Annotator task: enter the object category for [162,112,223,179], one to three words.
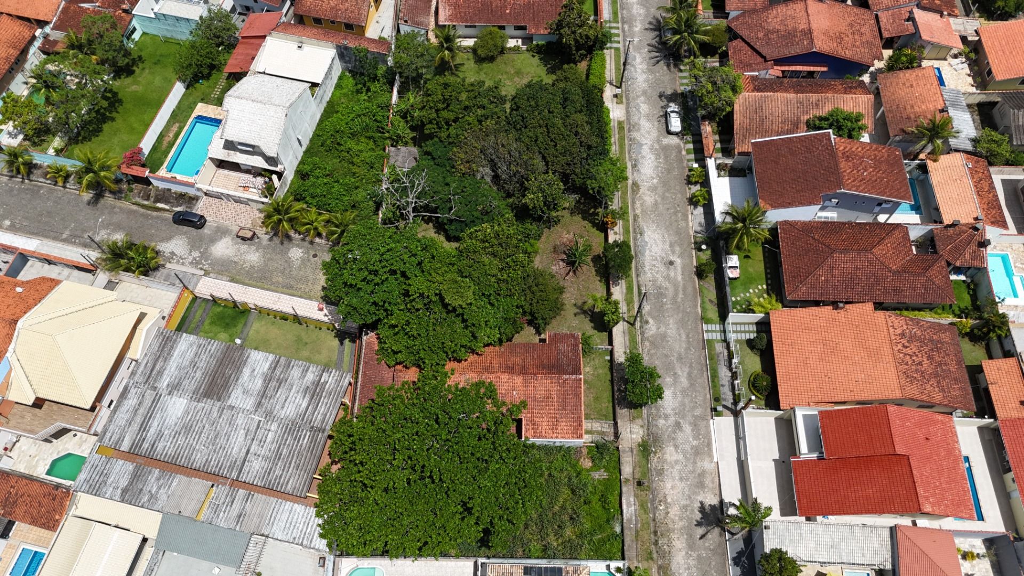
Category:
swimming pool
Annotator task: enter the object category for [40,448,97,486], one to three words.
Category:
swimming pool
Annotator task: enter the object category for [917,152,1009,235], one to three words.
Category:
house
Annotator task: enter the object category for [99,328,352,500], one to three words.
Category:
warehouse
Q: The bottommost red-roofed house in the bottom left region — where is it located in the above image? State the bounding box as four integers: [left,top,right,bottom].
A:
[0,472,82,532]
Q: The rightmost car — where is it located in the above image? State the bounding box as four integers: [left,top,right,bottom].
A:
[724,251,742,283]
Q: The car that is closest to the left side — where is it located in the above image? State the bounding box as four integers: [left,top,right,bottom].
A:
[168,209,210,233]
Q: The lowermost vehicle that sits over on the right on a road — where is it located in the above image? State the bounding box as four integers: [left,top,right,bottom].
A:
[664,109,683,138]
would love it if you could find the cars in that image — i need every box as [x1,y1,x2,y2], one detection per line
[664,109,683,138]
[659,22,675,47]
[168,209,210,233]
[724,251,742,283]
